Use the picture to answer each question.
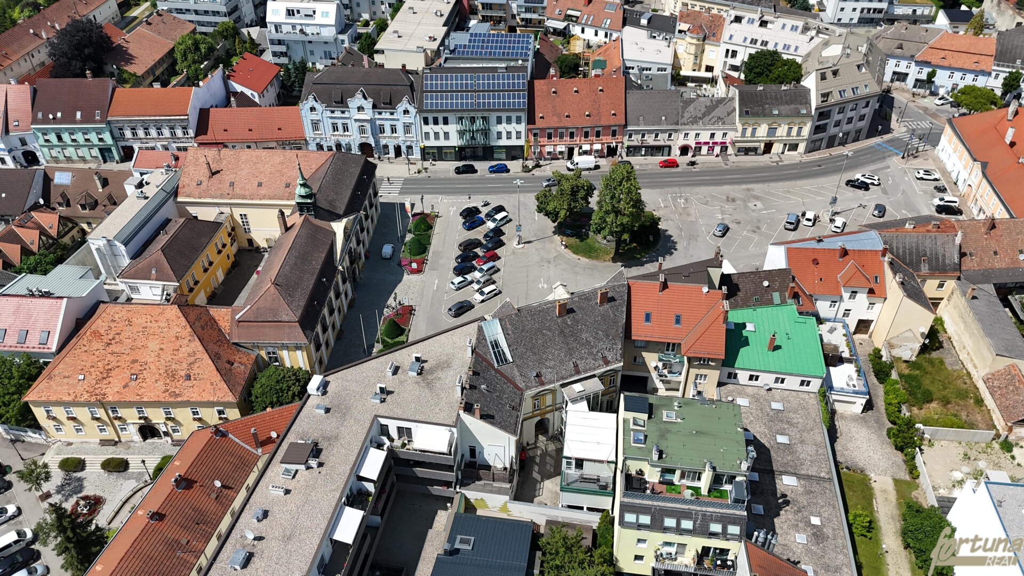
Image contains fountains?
Yes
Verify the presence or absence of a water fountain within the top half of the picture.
No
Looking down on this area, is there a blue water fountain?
No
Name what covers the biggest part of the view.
buildings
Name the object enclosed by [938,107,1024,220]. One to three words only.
building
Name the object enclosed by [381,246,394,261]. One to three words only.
vehicle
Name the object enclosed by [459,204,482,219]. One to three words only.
car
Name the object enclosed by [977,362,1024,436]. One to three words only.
shed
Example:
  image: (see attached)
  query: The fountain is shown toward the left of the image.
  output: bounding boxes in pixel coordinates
[62,489,112,526]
